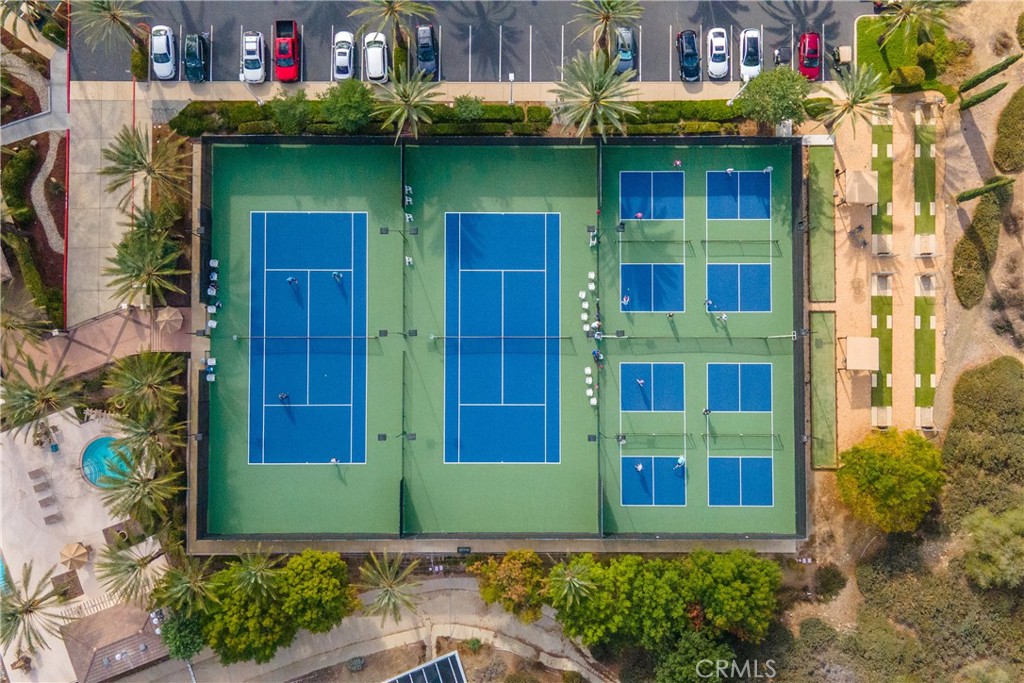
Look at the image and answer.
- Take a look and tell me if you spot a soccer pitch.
No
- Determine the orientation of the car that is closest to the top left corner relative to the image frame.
from top to bottom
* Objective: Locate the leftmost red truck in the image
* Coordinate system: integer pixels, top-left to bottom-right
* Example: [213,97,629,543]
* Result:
[272,20,299,84]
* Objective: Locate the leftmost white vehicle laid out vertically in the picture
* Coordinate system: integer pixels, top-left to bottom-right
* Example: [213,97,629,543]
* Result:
[150,26,176,81]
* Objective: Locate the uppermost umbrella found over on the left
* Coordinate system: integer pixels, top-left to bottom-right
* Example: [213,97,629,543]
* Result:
[157,306,184,333]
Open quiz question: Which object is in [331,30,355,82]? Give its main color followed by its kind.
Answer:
white car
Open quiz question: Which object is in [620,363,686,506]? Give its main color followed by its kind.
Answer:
blue sports court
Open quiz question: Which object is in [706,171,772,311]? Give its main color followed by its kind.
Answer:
blue sports court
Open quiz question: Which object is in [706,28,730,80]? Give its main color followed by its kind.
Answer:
white car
